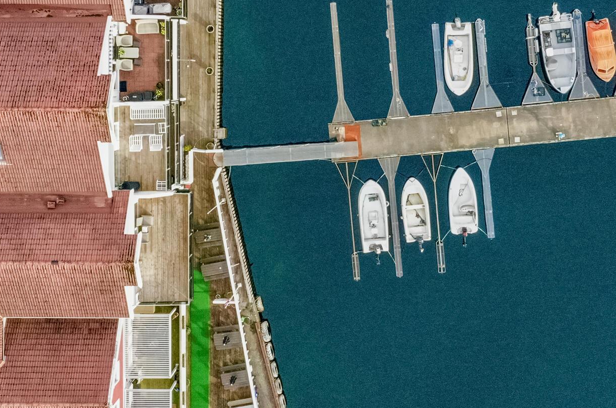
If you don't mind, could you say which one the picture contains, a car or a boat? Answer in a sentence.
The image shows a boat.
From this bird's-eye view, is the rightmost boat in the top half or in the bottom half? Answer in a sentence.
You can find the rightmost boat in the top half.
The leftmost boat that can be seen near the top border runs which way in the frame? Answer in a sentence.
I'd say the leftmost boat that can be seen near the top border is aligned vertically in the picture.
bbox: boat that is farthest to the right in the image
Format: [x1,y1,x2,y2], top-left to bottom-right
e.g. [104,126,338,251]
[584,8,616,82]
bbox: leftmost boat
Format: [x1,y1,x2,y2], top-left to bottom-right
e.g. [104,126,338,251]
[358,180,392,270]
